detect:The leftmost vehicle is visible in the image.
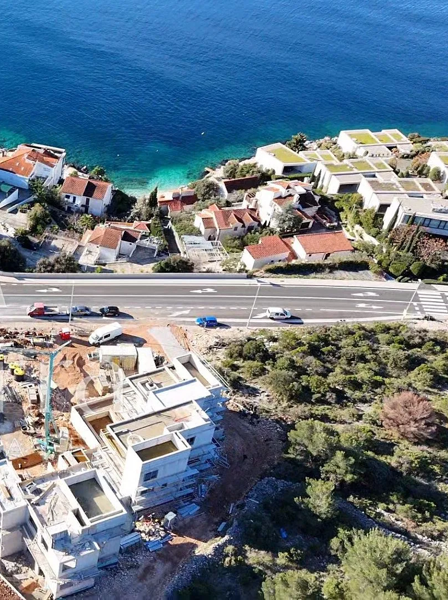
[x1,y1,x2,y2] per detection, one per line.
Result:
[27,302,59,318]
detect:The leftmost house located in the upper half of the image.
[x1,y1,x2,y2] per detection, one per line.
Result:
[0,151,77,196]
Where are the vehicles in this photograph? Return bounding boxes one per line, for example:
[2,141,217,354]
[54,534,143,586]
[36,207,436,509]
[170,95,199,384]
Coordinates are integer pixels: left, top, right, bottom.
[27,302,59,318]
[89,320,124,345]
[97,304,122,316]
[67,304,93,316]
[265,306,294,320]
[194,316,221,327]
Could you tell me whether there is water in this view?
Yes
